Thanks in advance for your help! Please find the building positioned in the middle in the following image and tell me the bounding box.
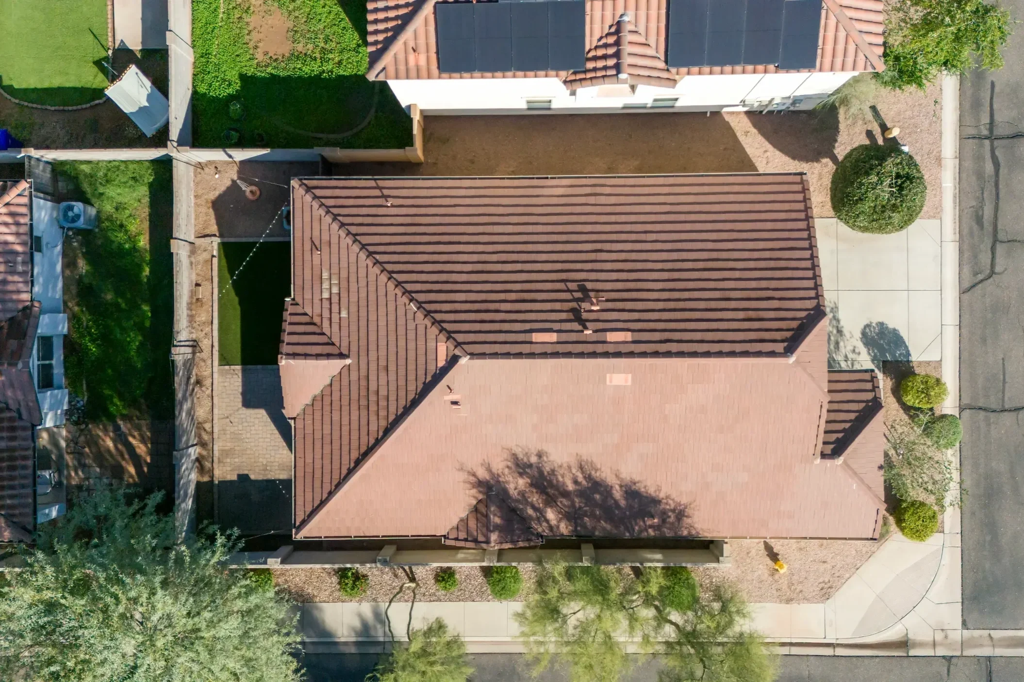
[277,174,887,553]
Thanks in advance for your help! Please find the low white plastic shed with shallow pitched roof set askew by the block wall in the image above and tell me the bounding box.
[100,62,168,138]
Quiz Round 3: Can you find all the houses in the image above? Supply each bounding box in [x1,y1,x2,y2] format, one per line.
[0,176,68,547]
[363,0,892,119]
[277,174,887,553]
